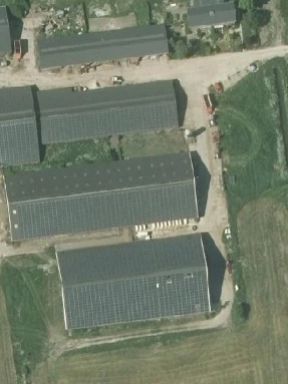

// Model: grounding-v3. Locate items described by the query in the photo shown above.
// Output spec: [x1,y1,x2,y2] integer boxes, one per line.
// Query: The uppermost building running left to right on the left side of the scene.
[36,24,169,71]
